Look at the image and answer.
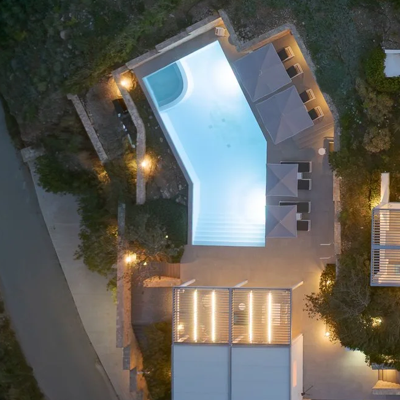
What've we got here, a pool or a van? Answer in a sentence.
The image shows a pool.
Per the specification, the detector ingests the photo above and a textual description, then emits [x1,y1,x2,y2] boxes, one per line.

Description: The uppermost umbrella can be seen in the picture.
[232,42,292,102]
